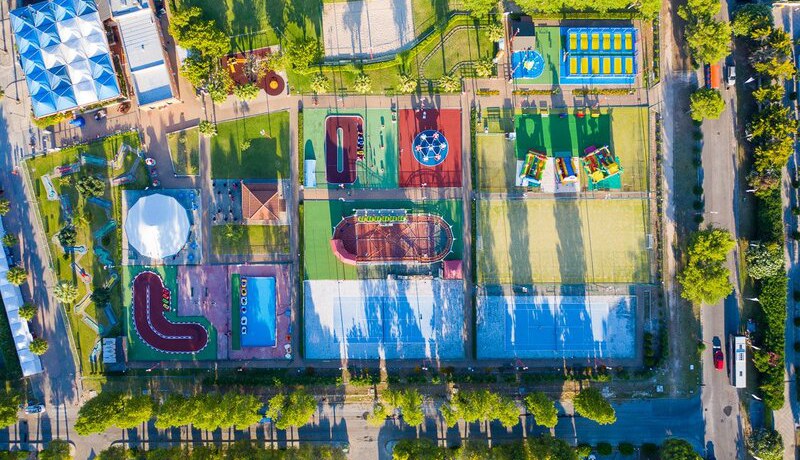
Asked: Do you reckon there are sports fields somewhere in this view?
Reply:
Yes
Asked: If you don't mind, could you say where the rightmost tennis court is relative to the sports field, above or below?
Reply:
below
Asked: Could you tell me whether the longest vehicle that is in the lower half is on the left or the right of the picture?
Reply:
right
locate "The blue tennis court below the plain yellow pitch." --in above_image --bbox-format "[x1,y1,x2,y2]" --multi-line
[477,295,637,358]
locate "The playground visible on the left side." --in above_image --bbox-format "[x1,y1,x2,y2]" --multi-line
[228,48,283,94]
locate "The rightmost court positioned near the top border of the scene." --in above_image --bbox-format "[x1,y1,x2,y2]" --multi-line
[323,0,413,59]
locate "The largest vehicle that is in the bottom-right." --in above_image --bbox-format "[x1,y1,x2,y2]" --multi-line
[728,336,748,392]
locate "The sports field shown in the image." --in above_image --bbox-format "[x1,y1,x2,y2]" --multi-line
[477,198,650,284]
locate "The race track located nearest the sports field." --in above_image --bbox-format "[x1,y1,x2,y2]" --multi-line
[303,108,398,188]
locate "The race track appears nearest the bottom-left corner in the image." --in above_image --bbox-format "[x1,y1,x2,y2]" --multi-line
[127,266,216,360]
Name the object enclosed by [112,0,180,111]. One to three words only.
building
